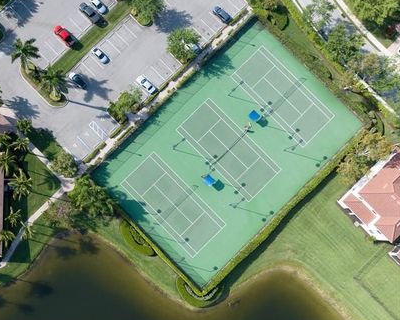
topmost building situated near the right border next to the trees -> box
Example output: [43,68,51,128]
[337,152,400,242]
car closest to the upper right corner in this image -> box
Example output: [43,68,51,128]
[214,4,233,22]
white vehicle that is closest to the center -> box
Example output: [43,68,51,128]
[138,77,157,94]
